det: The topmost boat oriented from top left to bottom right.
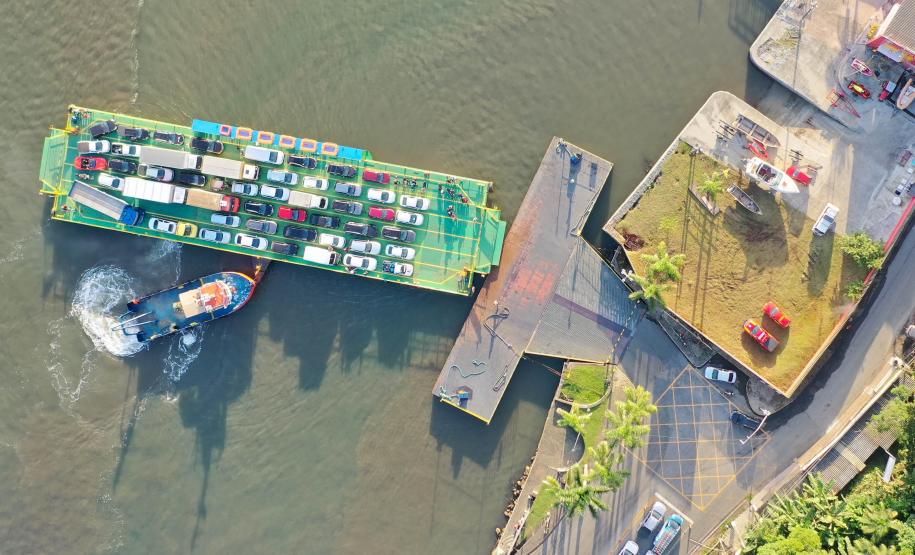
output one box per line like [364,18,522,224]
[848,58,869,75]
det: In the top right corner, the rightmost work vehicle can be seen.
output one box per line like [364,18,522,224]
[873,73,899,97]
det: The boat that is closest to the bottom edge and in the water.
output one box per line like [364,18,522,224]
[112,272,261,341]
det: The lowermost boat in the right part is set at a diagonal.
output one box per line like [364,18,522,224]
[726,184,762,214]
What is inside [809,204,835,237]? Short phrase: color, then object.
white truck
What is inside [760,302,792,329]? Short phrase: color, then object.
red truck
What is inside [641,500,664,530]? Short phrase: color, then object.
white car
